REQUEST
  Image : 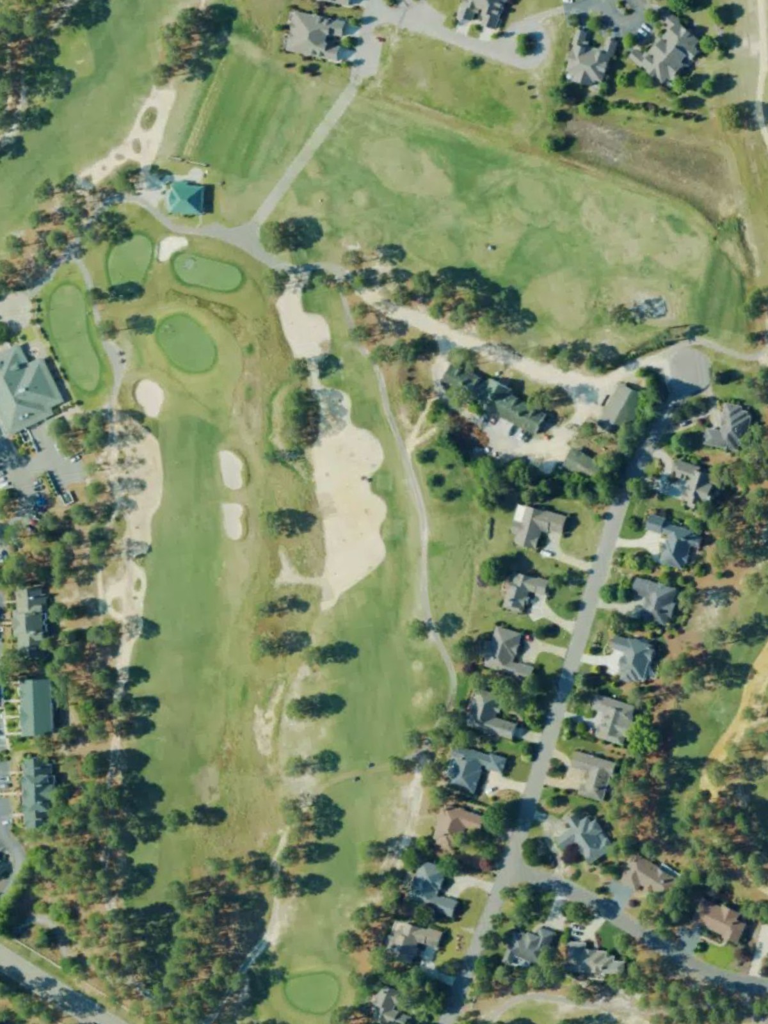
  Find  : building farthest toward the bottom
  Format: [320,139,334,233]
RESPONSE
[369,986,417,1024]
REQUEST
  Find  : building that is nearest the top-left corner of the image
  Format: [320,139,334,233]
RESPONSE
[166,182,203,214]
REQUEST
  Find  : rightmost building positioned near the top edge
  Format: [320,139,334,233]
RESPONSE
[627,14,702,83]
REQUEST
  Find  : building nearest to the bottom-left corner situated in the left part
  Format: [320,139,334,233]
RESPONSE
[20,757,55,830]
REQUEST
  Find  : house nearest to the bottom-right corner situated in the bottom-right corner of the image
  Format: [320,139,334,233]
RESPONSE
[696,900,754,952]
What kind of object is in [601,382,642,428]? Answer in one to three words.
shed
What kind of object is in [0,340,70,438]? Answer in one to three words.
building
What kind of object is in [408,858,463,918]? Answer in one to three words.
house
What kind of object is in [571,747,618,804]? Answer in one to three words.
house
